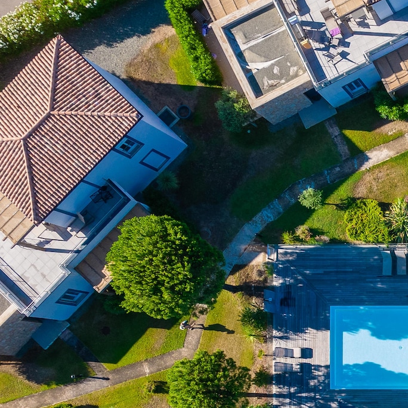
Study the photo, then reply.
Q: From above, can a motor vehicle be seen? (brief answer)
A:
No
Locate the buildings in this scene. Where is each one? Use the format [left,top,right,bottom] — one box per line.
[0,33,184,352]
[211,0,408,130]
